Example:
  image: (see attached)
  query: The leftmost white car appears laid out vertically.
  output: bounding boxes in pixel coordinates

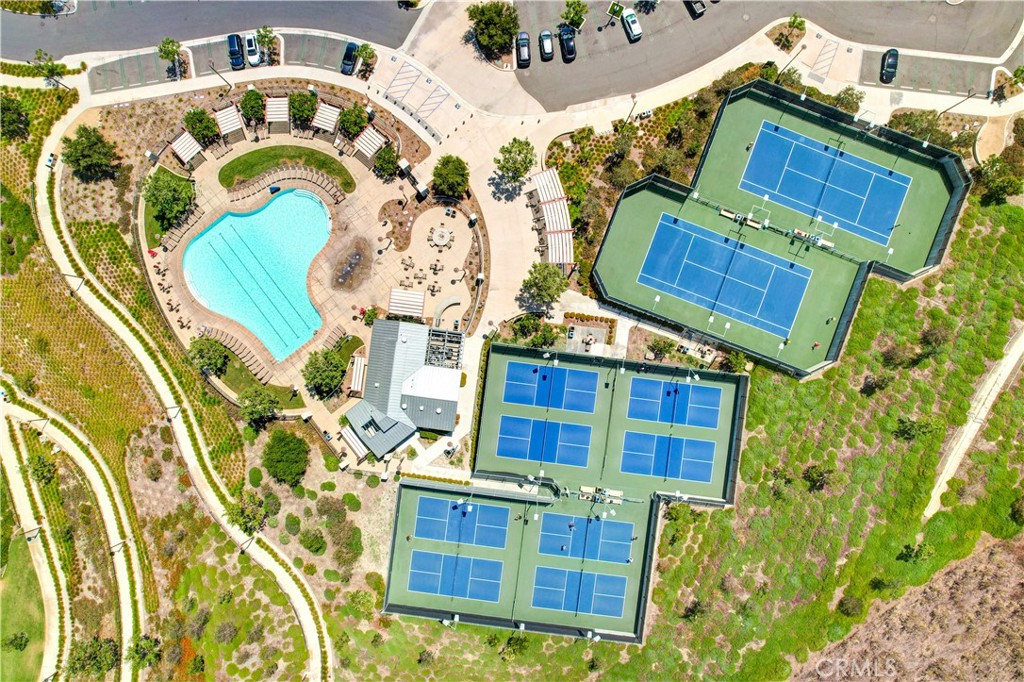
[242,34,261,67]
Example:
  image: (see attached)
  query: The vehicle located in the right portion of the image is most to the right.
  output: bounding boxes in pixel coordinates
[878,48,898,83]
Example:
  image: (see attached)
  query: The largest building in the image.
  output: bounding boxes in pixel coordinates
[345,320,466,458]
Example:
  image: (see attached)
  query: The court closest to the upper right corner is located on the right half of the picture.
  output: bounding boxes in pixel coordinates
[688,88,957,273]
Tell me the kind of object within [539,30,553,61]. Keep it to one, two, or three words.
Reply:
car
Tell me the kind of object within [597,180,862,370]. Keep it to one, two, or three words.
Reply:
tennis court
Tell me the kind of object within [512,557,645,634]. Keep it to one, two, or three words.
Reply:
sports court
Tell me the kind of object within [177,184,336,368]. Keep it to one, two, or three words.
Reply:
swimming pool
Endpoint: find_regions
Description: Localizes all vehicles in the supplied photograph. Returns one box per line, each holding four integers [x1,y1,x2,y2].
[559,28,576,64]
[539,30,553,61]
[622,9,644,43]
[242,34,261,67]
[226,34,248,71]
[686,0,710,19]
[340,42,358,75]
[515,33,531,67]
[878,48,898,83]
